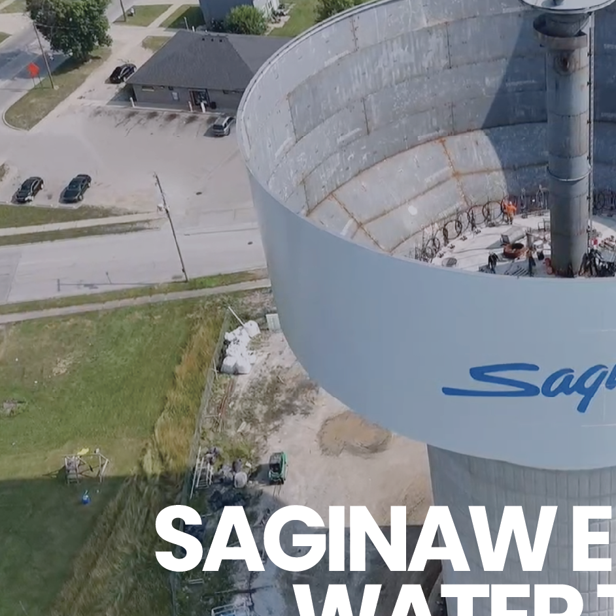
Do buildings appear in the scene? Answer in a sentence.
Yes, a building appears in the view.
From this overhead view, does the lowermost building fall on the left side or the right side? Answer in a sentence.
The lowermost building is on the left side of the image.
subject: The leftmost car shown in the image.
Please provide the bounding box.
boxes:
[11,172,46,202]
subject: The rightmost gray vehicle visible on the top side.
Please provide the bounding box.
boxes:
[208,115,237,136]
